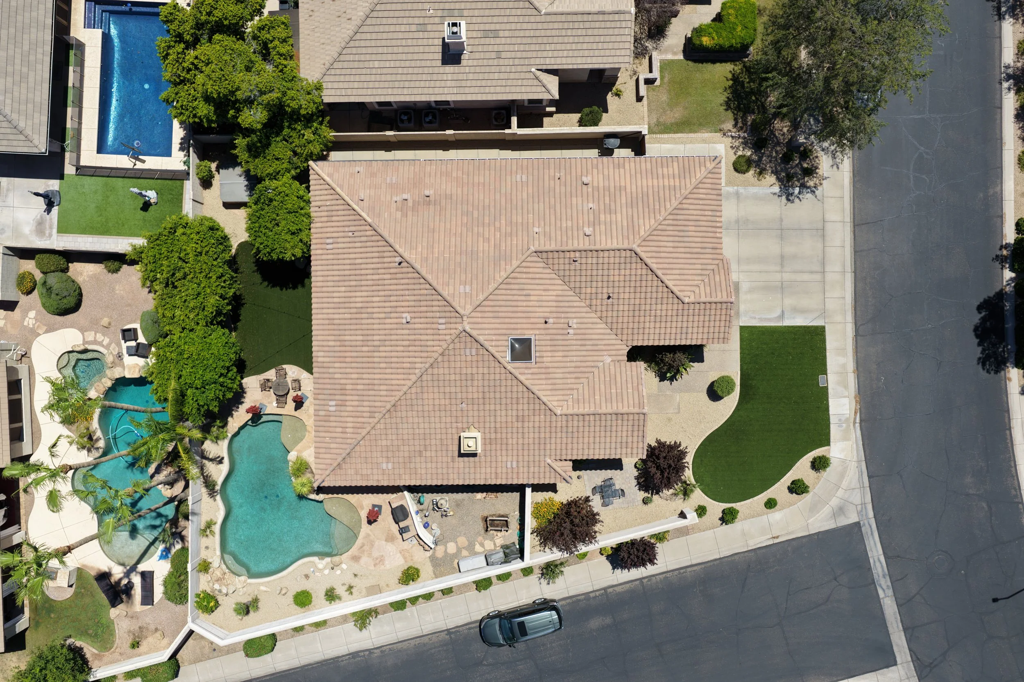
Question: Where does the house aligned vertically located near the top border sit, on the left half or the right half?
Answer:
left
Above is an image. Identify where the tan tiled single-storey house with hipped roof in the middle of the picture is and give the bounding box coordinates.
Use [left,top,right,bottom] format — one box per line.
[307,153,735,489]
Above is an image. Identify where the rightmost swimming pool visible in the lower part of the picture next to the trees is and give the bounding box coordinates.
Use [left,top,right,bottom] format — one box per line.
[215,414,361,583]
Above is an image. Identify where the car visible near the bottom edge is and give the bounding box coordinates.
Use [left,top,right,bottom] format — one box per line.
[477,597,564,649]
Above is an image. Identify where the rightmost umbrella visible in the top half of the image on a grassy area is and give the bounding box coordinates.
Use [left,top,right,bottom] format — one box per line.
[127,186,158,203]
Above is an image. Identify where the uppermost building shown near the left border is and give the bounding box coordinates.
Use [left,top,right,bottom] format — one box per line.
[0,0,71,163]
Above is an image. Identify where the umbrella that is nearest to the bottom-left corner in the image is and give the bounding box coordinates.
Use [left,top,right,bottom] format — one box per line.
[248,402,268,416]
